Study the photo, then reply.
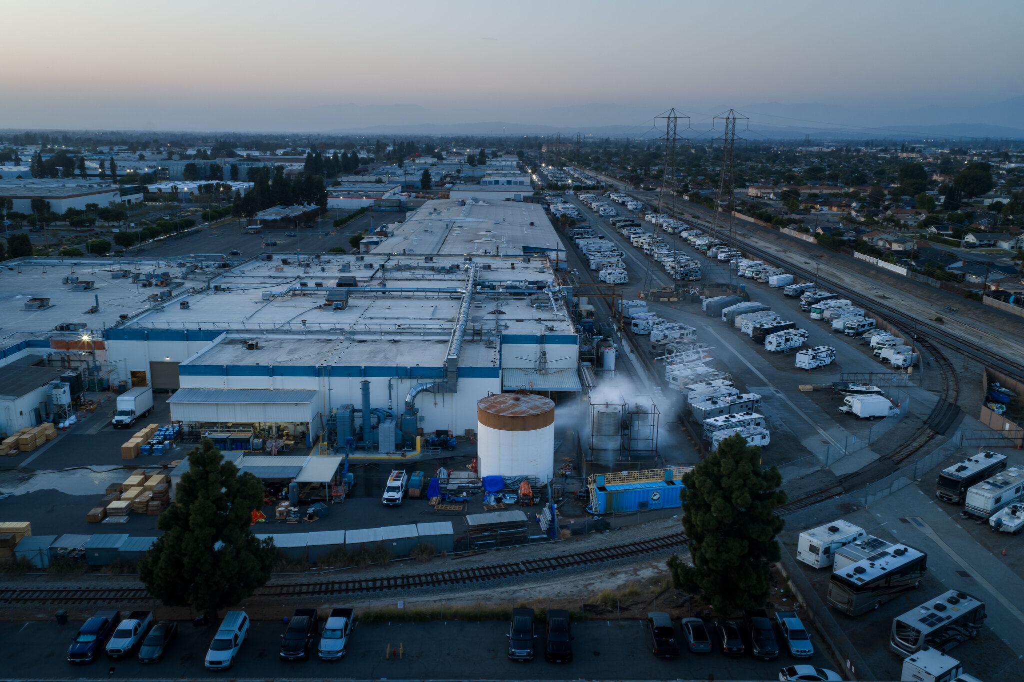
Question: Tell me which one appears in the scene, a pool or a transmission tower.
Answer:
transmission tower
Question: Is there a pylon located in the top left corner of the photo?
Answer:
No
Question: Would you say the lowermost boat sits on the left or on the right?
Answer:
right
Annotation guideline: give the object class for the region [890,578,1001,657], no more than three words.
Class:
camper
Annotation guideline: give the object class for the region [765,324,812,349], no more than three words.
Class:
trailer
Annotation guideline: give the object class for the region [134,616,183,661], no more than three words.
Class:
car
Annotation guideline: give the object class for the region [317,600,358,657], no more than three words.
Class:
truck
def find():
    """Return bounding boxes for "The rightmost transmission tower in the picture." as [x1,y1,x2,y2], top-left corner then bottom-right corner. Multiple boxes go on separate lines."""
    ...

[701,109,759,296]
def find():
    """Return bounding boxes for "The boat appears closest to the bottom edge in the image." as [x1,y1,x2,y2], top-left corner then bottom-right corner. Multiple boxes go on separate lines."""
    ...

[995,508,1024,539]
